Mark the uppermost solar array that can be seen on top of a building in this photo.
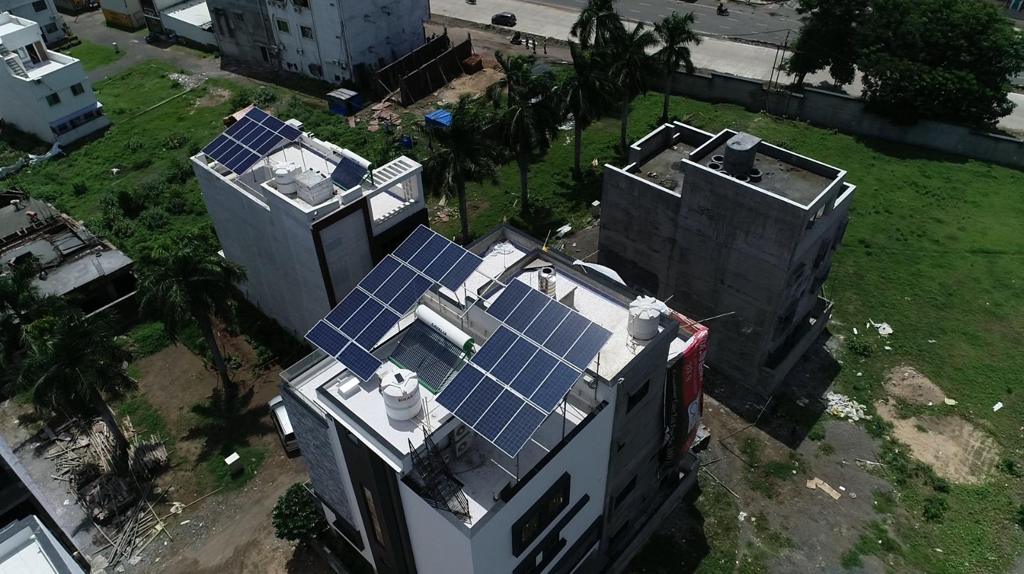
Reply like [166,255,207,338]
[201,106,305,191]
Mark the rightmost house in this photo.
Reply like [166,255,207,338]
[597,123,860,382]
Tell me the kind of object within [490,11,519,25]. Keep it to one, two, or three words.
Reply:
car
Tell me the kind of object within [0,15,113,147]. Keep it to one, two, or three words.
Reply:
house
